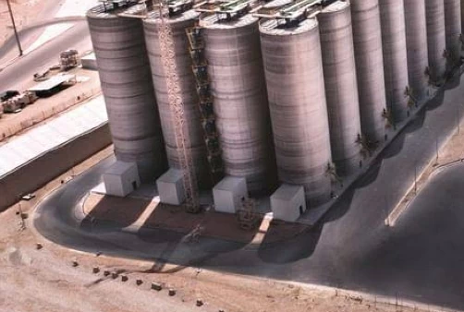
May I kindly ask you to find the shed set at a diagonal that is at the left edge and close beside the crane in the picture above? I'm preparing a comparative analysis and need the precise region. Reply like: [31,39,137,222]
[0,106,111,212]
